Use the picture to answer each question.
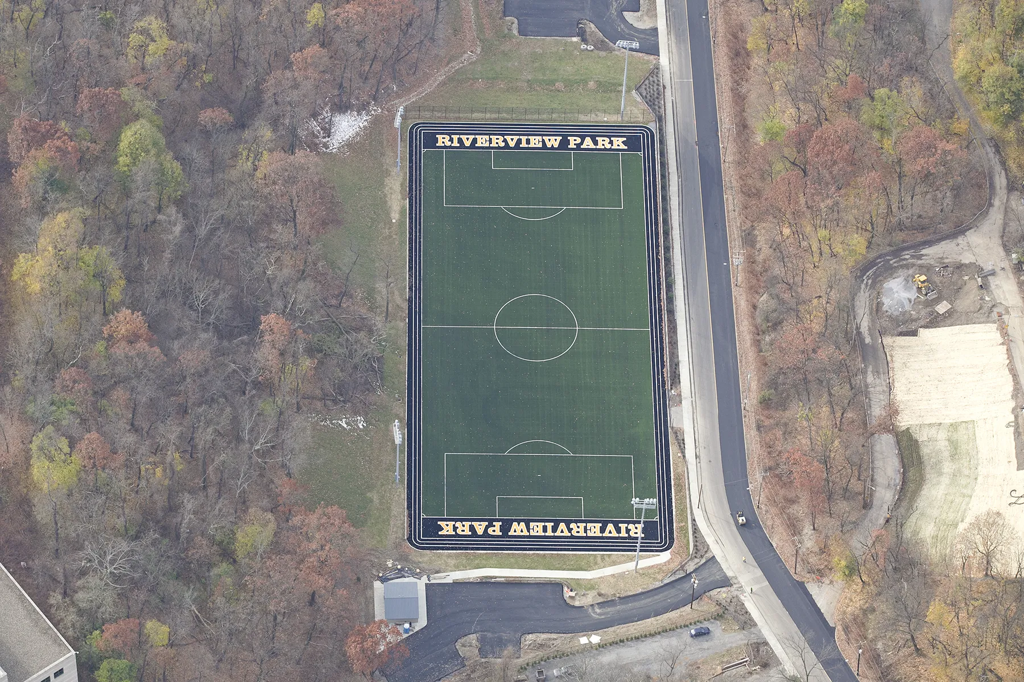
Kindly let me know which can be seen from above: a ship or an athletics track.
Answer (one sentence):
There is an athletics track in the scene.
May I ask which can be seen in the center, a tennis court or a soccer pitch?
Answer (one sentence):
Visible in the center is a soccer pitch.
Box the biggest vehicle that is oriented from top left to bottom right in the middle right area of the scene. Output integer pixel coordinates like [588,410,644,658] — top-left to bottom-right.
[914,277,937,304]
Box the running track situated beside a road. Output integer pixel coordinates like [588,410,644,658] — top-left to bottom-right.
[407,120,673,554]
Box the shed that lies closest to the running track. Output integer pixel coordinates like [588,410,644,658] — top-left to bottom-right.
[384,581,418,623]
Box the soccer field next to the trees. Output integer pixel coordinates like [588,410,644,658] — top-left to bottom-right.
[422,131,659,541]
